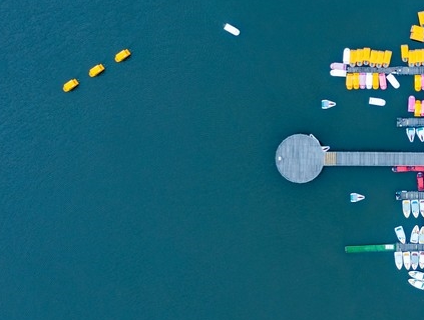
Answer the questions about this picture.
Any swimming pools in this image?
No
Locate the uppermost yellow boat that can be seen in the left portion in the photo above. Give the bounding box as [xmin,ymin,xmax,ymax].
[115,48,132,61]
